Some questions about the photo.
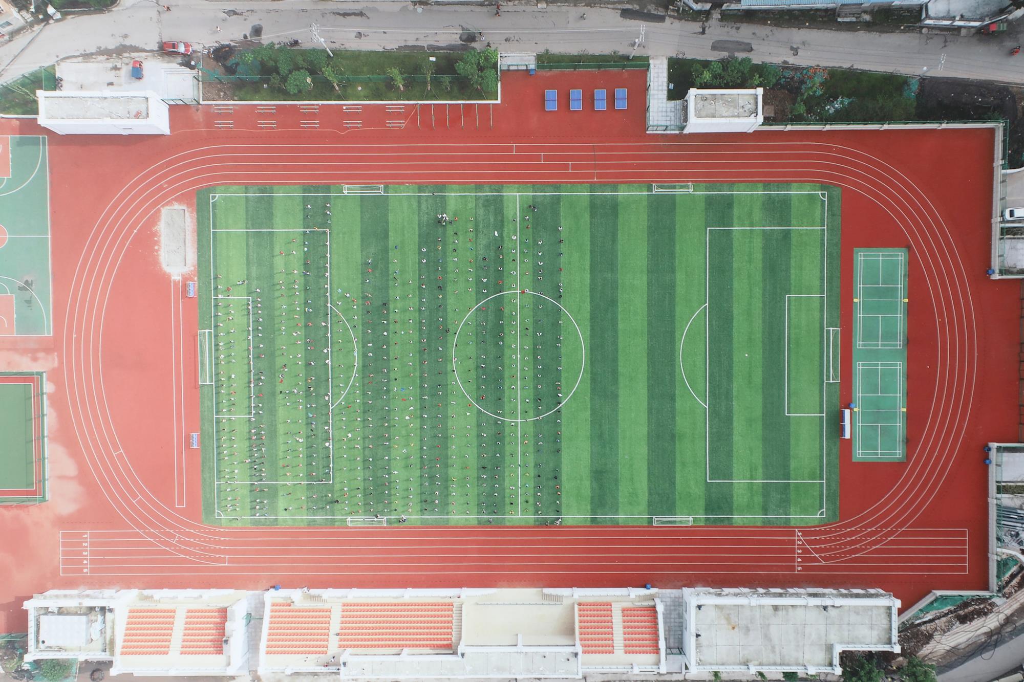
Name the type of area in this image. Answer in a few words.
sports ground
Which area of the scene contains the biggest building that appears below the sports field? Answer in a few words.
bottom right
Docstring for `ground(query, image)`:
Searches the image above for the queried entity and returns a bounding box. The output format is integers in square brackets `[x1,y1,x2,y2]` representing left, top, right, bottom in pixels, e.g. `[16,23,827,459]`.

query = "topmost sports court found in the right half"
[853,248,908,355]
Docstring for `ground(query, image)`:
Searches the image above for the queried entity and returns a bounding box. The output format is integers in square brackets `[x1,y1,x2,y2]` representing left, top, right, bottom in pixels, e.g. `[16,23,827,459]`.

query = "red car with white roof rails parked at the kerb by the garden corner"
[162,39,193,56]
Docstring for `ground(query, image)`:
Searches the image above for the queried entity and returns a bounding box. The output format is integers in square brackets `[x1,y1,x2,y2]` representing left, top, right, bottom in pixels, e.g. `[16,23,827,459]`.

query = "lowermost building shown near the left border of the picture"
[27,589,127,659]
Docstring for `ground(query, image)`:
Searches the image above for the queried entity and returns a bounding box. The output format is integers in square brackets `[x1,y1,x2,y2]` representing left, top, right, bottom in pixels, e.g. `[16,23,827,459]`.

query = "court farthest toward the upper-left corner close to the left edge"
[0,135,52,336]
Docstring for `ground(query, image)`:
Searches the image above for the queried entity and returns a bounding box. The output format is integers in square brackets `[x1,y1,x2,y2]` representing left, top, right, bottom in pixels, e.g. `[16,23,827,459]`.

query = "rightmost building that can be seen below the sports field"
[679,588,899,672]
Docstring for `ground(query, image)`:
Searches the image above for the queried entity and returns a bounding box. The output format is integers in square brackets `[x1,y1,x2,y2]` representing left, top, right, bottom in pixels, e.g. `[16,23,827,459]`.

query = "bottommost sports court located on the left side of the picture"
[0,372,49,506]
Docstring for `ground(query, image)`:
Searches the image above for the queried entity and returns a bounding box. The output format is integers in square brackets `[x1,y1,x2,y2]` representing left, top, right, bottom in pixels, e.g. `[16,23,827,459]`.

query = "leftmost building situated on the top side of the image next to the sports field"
[34,89,170,134]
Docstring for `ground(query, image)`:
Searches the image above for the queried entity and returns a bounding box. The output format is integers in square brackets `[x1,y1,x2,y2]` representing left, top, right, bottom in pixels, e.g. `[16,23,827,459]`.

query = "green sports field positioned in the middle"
[196,183,841,526]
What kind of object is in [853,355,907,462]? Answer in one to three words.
sports court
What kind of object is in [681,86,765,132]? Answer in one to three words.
house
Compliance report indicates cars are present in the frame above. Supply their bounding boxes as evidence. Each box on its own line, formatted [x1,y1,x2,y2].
[162,39,193,56]
[1002,207,1024,222]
